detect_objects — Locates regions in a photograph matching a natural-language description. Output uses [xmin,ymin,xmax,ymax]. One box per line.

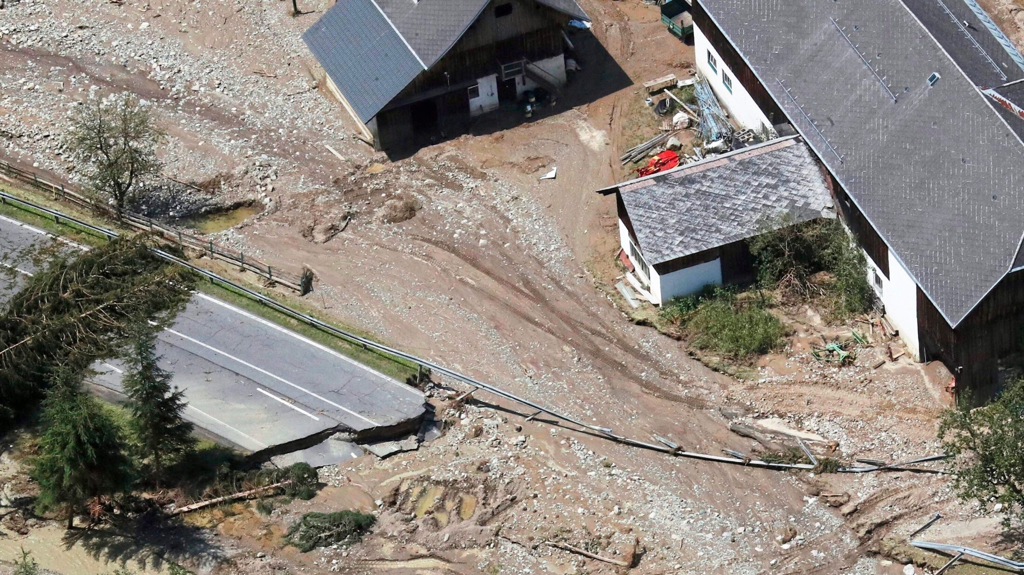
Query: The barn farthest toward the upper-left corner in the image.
[297,0,591,151]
